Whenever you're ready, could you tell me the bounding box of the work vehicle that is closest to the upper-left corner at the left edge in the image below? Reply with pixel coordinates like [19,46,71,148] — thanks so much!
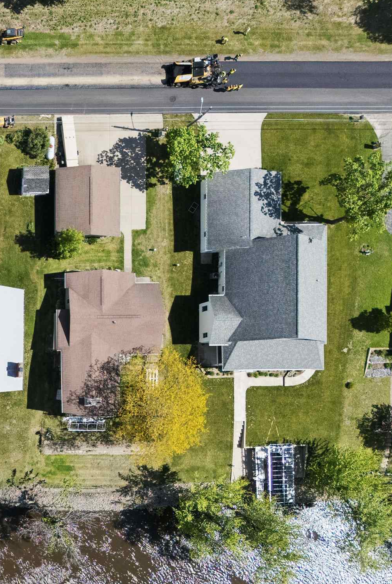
[0,26,22,48]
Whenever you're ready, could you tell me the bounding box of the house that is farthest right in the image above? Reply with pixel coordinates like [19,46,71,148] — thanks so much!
[198,167,328,371]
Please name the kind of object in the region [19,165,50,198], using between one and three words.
shed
